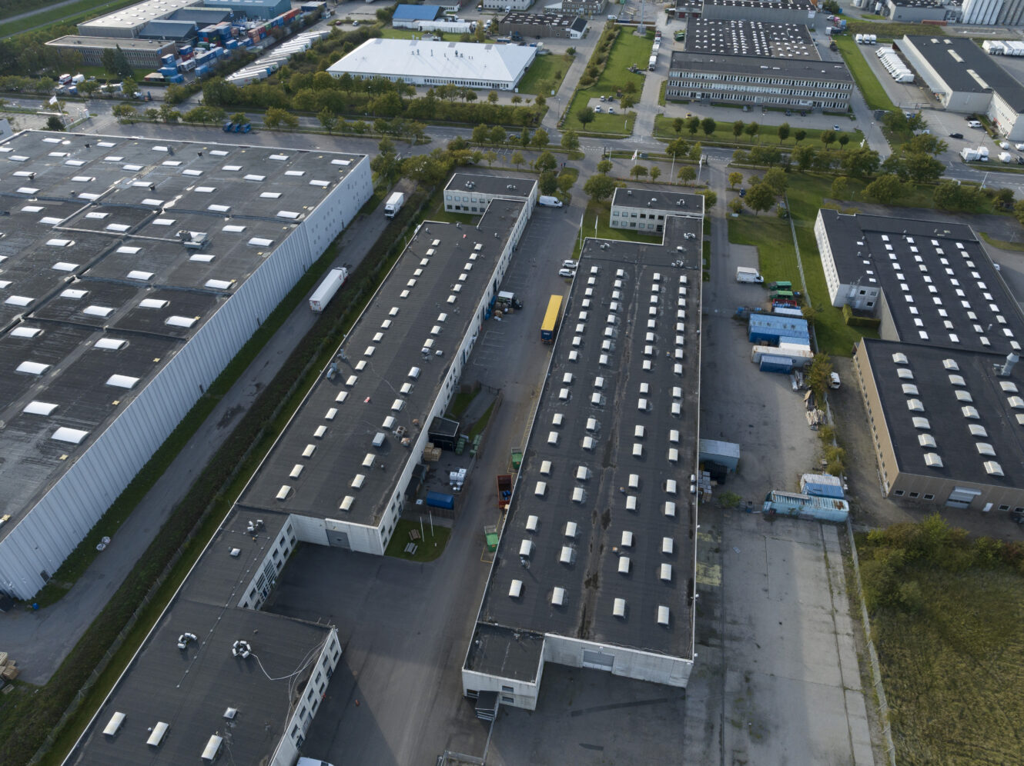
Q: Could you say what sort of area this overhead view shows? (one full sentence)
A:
This looks like an industrial area.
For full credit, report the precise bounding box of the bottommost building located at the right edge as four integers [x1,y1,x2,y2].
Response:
[848,337,1024,515]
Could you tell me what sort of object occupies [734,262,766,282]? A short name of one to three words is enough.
vehicle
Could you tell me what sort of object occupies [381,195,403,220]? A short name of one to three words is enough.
truck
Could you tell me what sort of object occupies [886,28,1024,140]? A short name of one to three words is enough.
warehouse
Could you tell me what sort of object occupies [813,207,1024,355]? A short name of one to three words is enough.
building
